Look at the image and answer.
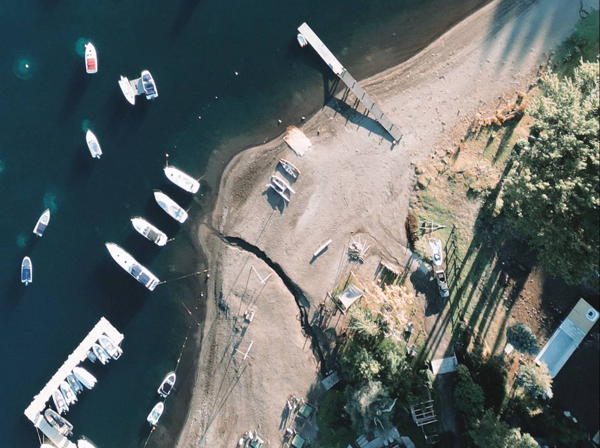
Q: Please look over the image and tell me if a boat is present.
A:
Yes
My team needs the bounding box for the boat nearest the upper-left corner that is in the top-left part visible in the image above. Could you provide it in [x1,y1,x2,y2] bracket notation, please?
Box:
[85,41,98,76]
